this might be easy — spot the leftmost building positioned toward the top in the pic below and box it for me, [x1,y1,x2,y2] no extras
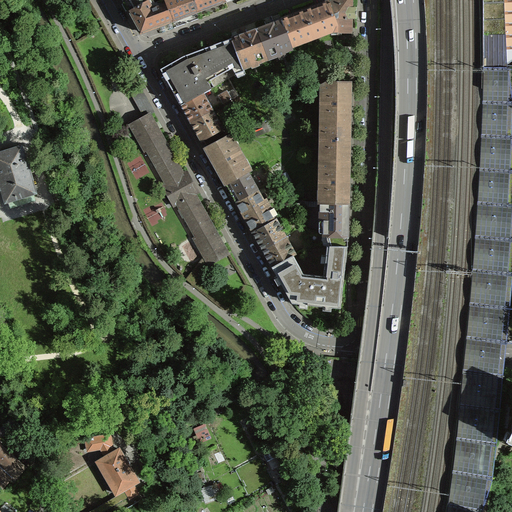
[0,146,36,208]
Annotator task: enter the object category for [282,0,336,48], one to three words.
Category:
house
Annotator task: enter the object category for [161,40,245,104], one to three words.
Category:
building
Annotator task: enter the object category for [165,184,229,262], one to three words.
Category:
building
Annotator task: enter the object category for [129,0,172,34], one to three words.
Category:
house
